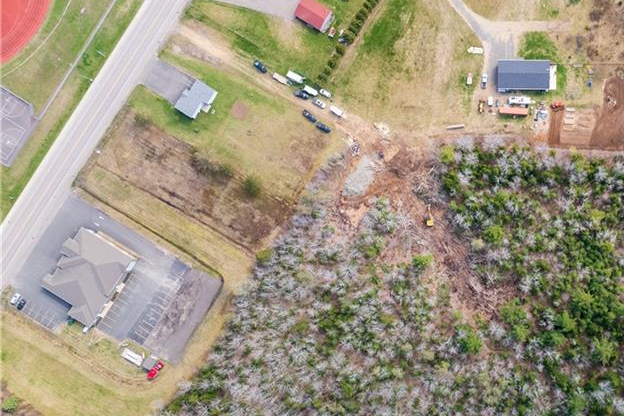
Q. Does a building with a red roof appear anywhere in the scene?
Yes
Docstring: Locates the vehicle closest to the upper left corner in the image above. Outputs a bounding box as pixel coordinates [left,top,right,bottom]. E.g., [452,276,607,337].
[252,60,269,74]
